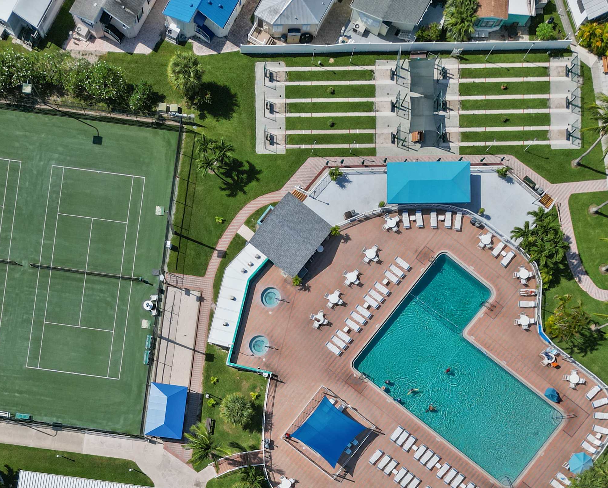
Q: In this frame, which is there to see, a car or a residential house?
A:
residential house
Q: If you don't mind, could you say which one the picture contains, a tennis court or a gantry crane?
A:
tennis court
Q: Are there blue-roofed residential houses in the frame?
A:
Yes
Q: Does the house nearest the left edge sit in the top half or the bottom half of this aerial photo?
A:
top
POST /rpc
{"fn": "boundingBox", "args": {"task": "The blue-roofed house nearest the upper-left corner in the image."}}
[162,0,243,39]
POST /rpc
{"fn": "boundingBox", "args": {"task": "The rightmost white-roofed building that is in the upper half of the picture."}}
[555,0,608,39]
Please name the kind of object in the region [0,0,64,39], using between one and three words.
house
